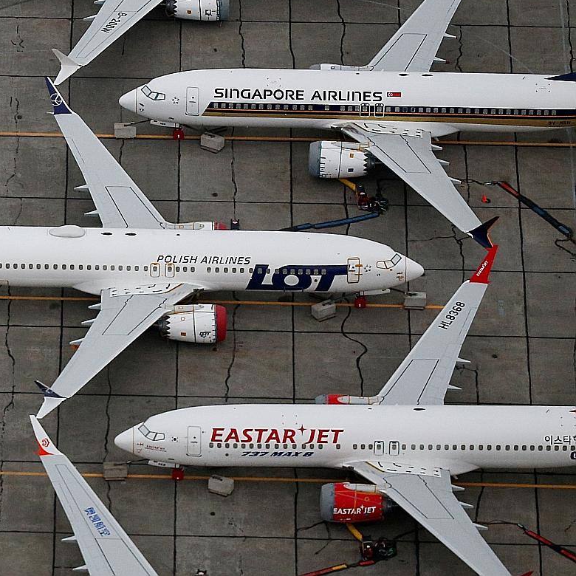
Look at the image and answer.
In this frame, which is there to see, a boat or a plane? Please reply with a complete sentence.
I can see a plane in this picture.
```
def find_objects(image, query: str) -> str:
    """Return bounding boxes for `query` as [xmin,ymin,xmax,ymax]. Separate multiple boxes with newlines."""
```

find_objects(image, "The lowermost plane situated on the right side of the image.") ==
[116,245,576,576]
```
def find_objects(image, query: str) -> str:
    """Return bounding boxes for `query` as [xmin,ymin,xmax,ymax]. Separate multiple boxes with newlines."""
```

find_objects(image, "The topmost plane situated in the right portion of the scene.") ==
[121,0,576,251]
